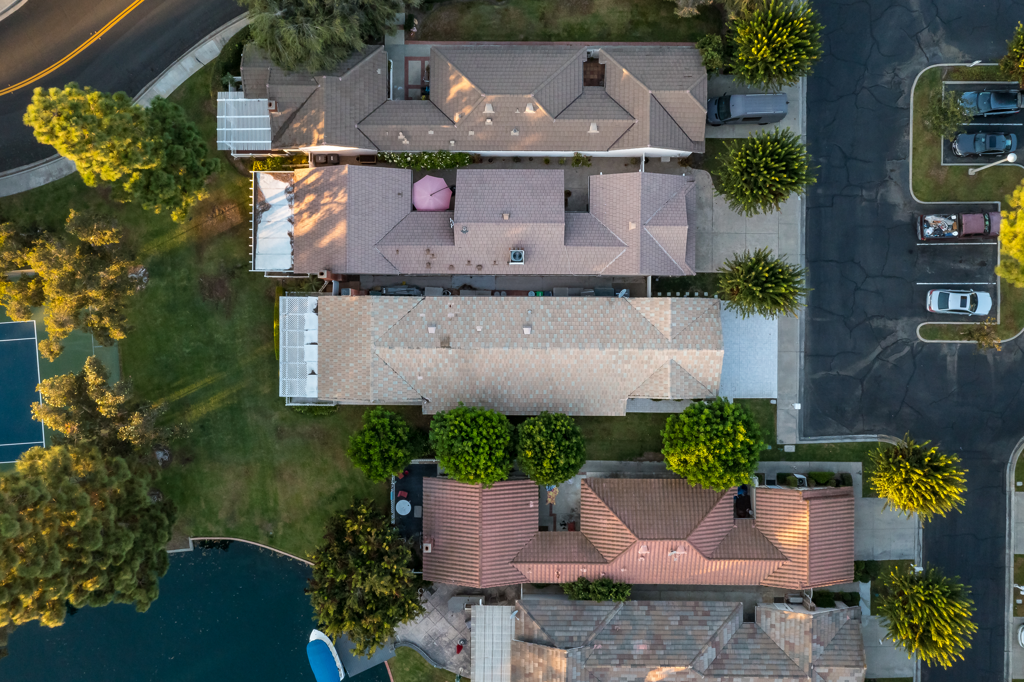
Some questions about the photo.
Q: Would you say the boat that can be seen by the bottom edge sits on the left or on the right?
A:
left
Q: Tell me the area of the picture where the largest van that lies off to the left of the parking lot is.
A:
top right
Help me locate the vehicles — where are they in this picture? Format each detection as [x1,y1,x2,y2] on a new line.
[707,91,787,126]
[925,287,993,317]
[912,207,1002,240]
[954,86,1024,119]
[951,126,1019,158]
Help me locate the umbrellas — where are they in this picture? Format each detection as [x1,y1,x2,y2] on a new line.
[459,638,467,657]
[413,176,456,211]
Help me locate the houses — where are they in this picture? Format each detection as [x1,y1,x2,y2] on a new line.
[294,164,697,284]
[512,590,866,682]
[238,43,709,159]
[317,289,726,417]
[422,474,855,590]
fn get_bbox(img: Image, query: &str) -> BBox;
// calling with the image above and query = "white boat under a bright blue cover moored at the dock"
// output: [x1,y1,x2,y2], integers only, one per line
[303,627,344,682]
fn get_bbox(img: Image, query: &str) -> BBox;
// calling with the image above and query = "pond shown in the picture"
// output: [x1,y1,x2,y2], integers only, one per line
[0,540,391,682]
